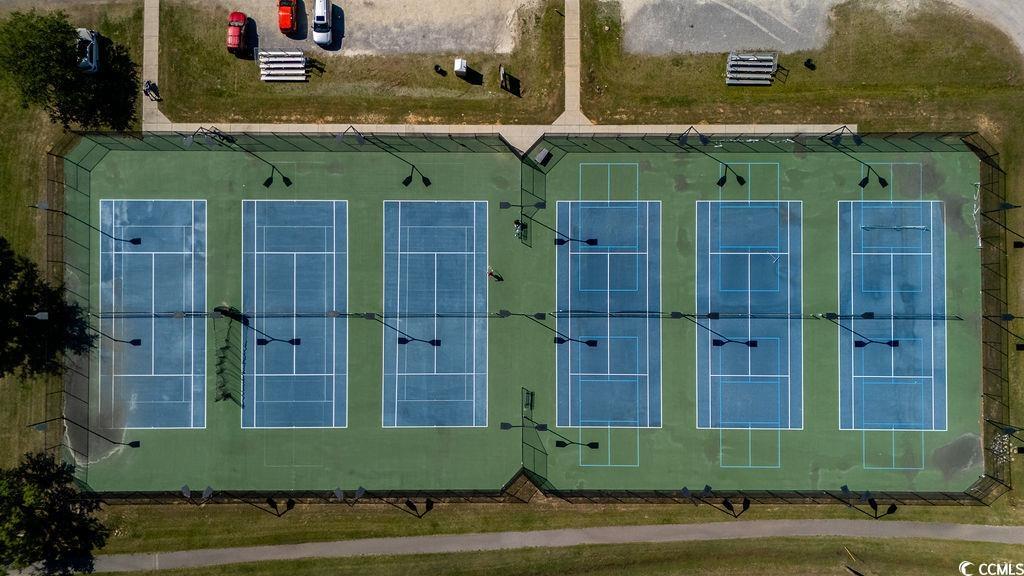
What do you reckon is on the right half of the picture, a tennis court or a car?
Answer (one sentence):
The feature located on the right half of the picture is a tennis court.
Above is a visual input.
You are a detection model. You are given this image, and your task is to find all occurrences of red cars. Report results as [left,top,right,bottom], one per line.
[276,0,299,34]
[225,12,248,53]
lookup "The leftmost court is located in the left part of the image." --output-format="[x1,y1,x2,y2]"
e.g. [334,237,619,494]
[99,200,207,429]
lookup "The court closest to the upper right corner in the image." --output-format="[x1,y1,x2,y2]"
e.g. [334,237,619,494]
[862,163,923,292]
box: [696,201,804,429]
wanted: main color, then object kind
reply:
blue tennis court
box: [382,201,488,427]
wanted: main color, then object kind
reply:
blue tennis court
